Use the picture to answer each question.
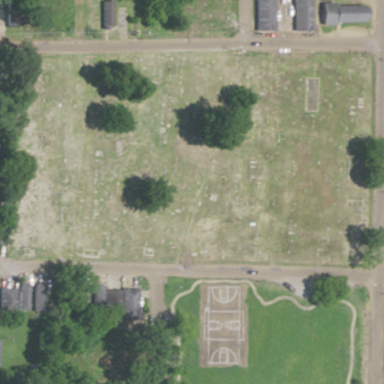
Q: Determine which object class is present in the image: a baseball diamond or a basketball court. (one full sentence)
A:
This aerial view contains a basketball court.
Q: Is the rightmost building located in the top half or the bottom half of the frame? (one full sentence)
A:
Seen from above, the rightmost building lies in the top half of the view.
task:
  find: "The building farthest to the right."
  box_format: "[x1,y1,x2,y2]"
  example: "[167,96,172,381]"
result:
[324,2,372,26]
